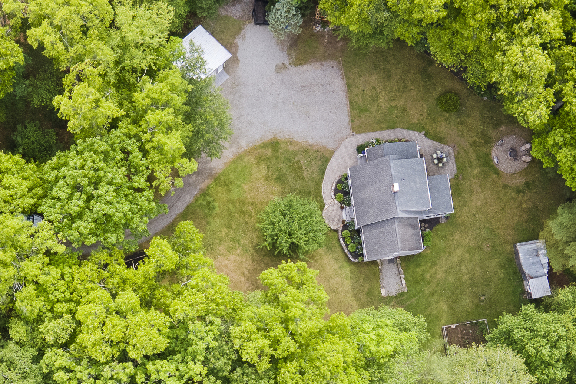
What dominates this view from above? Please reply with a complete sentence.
For the most part, this view shows trees.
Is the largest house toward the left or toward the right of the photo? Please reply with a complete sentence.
The largest house sits on the right side.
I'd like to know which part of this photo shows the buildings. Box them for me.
[173,26,235,93]
[347,141,454,262]
[514,239,555,298]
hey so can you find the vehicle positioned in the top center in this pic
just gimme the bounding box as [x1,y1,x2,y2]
[255,0,270,28]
